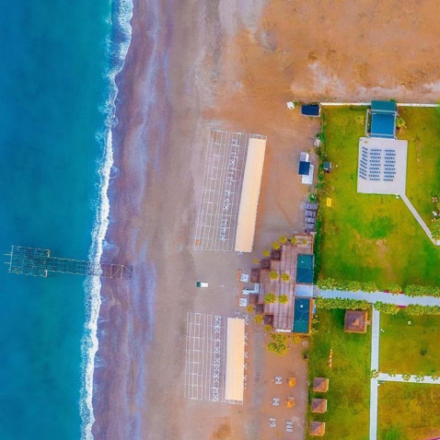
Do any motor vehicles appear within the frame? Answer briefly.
No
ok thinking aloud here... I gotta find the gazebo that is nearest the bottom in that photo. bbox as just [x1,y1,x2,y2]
[310,421,328,437]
